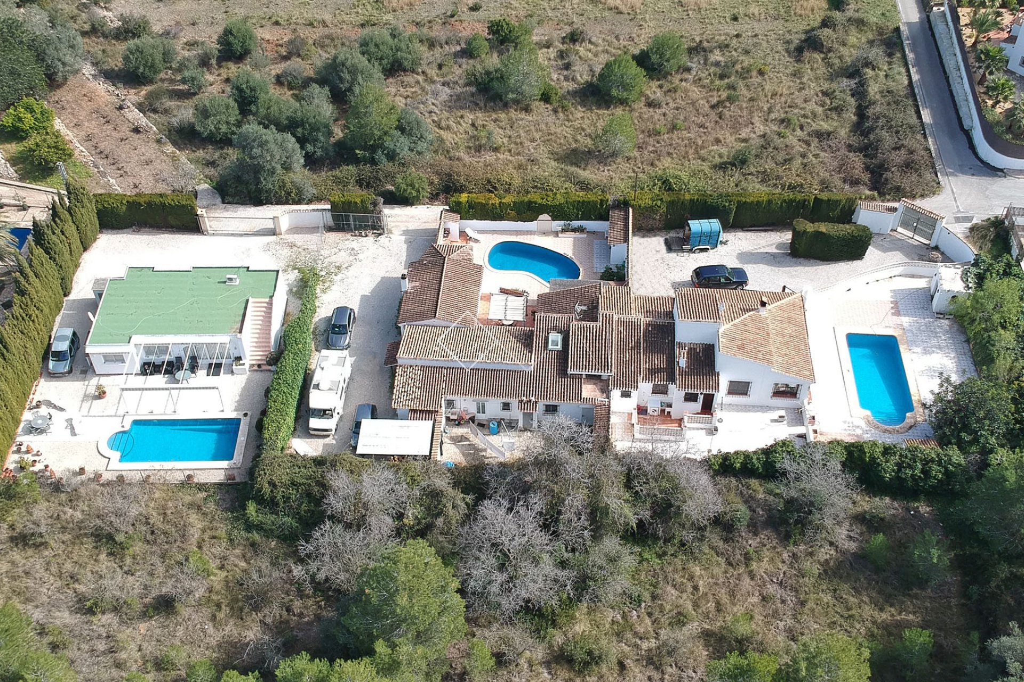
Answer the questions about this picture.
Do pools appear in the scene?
Yes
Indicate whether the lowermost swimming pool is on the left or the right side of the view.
left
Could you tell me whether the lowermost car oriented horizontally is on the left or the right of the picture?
right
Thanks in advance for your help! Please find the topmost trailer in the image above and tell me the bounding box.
[675,226,733,257]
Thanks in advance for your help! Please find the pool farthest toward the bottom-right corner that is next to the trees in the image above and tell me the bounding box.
[837,327,926,434]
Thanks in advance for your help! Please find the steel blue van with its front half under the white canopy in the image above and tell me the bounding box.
[345,399,381,449]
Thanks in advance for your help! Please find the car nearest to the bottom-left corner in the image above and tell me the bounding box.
[48,331,79,372]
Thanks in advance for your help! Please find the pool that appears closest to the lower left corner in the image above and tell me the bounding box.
[97,413,250,470]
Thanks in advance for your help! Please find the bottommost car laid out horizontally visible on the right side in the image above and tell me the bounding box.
[693,265,748,292]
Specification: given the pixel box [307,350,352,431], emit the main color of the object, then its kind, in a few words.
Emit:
white van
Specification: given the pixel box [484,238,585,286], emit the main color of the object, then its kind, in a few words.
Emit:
blue swimming pool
